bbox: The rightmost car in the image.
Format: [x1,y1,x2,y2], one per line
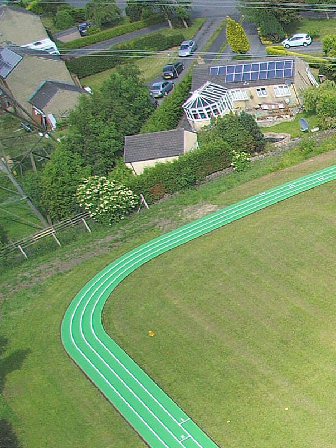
[281,33,312,48]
